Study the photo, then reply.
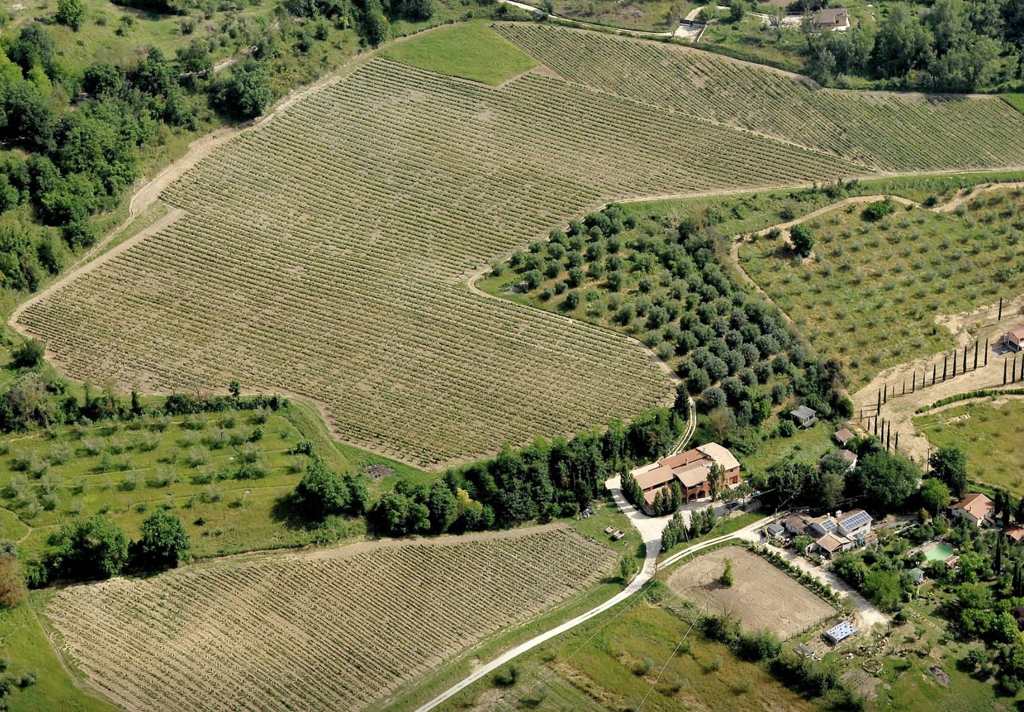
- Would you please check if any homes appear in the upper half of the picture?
Yes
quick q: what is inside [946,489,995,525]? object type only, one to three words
house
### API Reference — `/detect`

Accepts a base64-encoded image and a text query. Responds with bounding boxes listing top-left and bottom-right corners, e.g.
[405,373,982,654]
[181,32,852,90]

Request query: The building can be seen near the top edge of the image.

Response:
[814,11,854,35]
